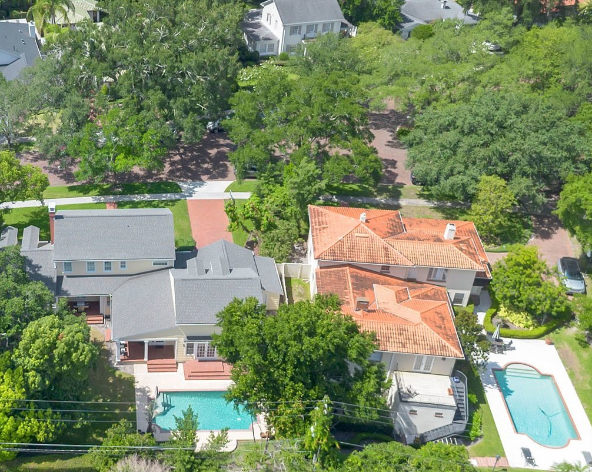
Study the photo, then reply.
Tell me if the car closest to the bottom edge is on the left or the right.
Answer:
right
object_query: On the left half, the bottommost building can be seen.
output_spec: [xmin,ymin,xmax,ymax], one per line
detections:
[0,205,284,380]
